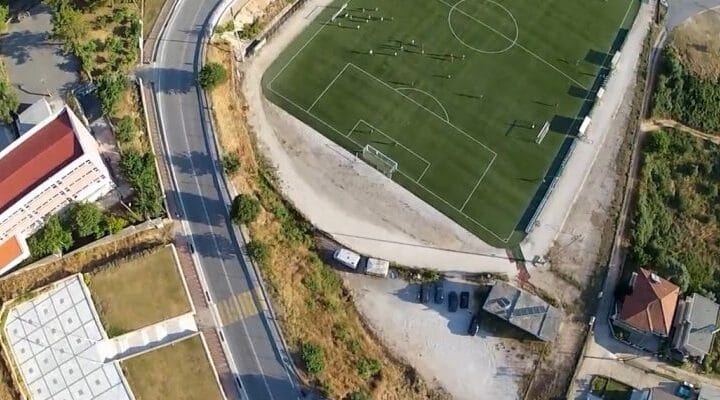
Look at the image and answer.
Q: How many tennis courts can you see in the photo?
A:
none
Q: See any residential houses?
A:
Yes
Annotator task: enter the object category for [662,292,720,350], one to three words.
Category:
house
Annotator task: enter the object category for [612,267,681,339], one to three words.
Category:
house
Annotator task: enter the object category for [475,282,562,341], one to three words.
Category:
shed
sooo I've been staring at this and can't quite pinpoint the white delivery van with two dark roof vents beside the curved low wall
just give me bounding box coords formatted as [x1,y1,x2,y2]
[335,249,361,269]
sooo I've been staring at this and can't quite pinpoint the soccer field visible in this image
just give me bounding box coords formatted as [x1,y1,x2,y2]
[262,0,641,262]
